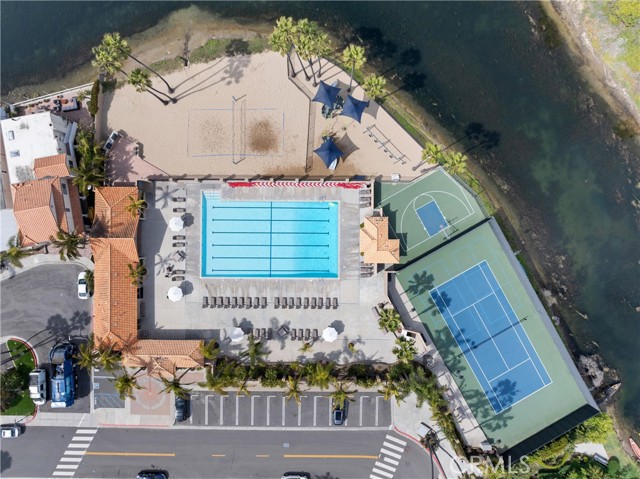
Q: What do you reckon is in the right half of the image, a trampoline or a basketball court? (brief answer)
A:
basketball court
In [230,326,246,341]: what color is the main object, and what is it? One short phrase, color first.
white umbrella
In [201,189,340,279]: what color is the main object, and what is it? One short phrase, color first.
blue swimming pool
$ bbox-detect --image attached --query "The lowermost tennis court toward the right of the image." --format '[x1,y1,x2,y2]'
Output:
[398,222,589,454]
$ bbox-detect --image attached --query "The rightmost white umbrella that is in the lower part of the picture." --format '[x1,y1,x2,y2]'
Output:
[322,326,338,341]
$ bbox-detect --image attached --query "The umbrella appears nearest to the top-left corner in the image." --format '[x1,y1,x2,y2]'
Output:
[170,216,185,231]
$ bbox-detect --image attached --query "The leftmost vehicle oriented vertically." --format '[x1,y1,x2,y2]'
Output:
[29,368,46,402]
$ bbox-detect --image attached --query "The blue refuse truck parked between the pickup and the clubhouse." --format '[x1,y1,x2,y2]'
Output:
[52,341,78,405]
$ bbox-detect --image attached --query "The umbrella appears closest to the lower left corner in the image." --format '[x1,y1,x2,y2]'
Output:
[168,286,183,301]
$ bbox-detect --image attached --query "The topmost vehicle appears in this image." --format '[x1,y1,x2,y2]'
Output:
[76,271,91,300]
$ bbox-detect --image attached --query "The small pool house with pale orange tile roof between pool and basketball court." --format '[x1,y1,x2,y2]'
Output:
[359,210,401,265]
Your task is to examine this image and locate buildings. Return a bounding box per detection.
[1,112,89,251]
[88,186,206,377]
[359,210,401,265]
